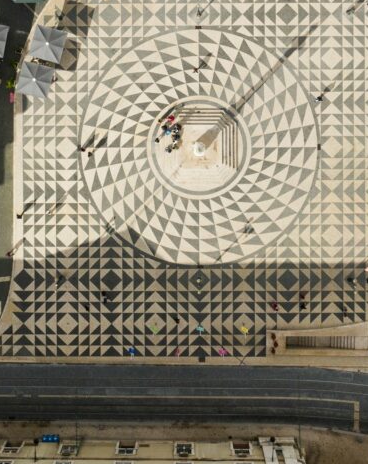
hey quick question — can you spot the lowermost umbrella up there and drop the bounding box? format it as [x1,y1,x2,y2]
[15,60,54,99]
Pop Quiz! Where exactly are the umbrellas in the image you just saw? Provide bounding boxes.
[15,60,54,99]
[0,25,9,57]
[28,25,67,63]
